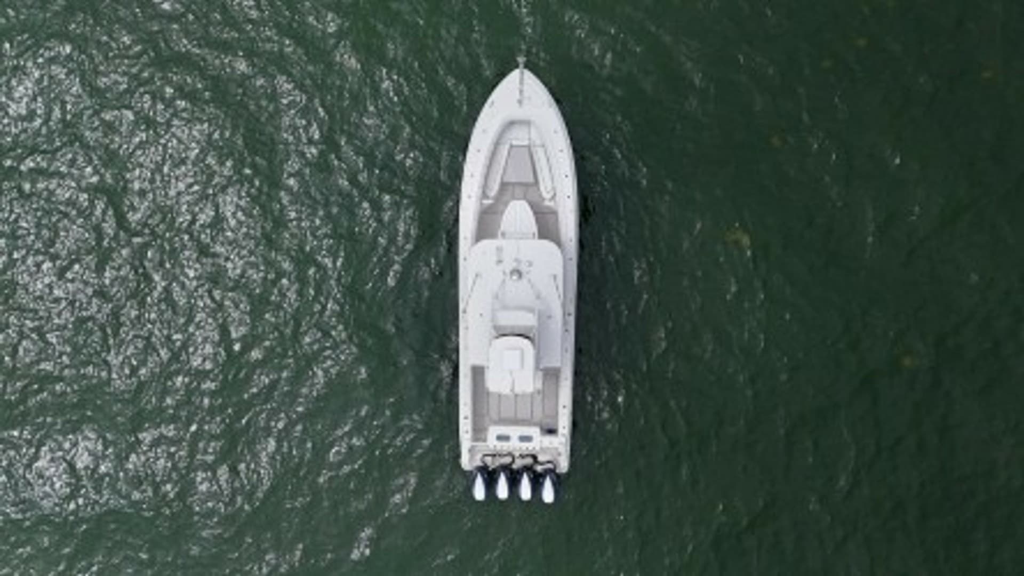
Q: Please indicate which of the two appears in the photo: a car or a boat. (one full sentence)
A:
Looking from above, you can make out a boat.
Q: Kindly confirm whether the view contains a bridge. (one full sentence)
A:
No, I find no bridge anywhere in the image.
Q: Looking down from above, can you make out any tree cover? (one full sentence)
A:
No, the picture contains no tree cover.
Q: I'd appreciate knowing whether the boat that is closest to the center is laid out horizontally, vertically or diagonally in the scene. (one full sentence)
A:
The boat that is closest to the center is laid out vertically.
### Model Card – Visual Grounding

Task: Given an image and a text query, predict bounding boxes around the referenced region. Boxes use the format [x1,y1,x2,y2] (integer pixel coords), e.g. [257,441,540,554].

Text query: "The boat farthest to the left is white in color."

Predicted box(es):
[459,63,579,503]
